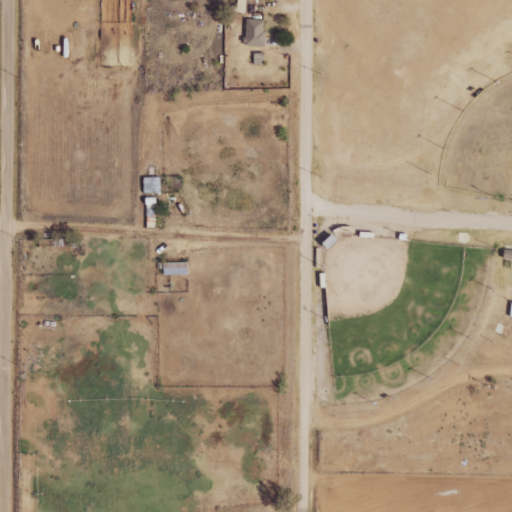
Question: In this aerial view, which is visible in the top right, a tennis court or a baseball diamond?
baseball diamond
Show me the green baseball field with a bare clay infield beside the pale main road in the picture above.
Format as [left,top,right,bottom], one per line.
[326,234,464,376]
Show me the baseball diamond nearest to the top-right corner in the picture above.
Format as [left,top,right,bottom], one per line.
[438,72,512,200]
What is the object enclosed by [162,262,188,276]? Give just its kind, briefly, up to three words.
shed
